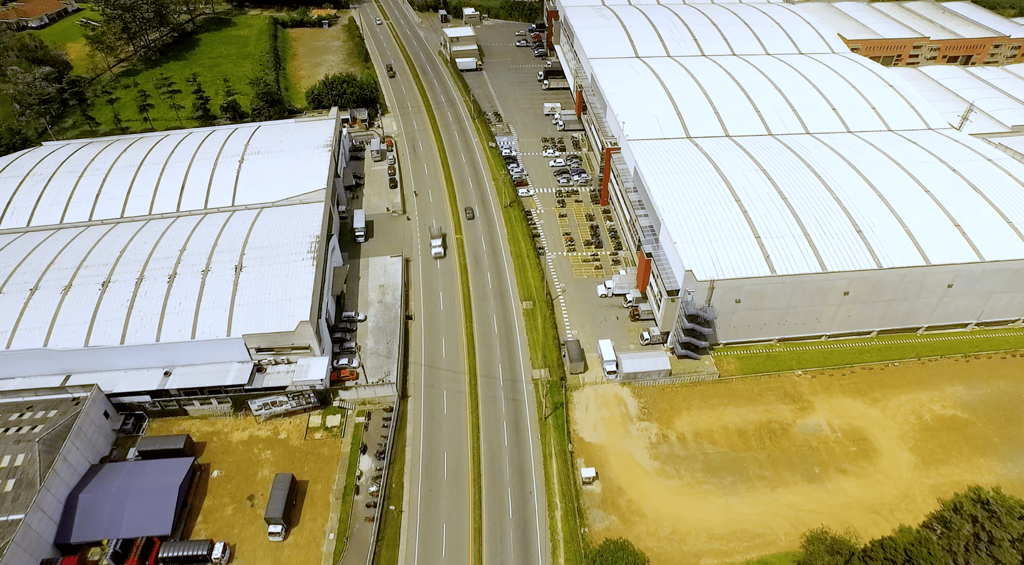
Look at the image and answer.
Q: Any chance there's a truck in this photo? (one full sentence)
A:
Yes, a truck can be made out from above.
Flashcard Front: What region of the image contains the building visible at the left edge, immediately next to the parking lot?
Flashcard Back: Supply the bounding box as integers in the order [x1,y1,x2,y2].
[0,104,359,414]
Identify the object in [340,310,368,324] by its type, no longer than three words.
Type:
car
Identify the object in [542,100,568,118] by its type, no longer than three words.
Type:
vehicle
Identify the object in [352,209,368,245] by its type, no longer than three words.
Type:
vehicle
